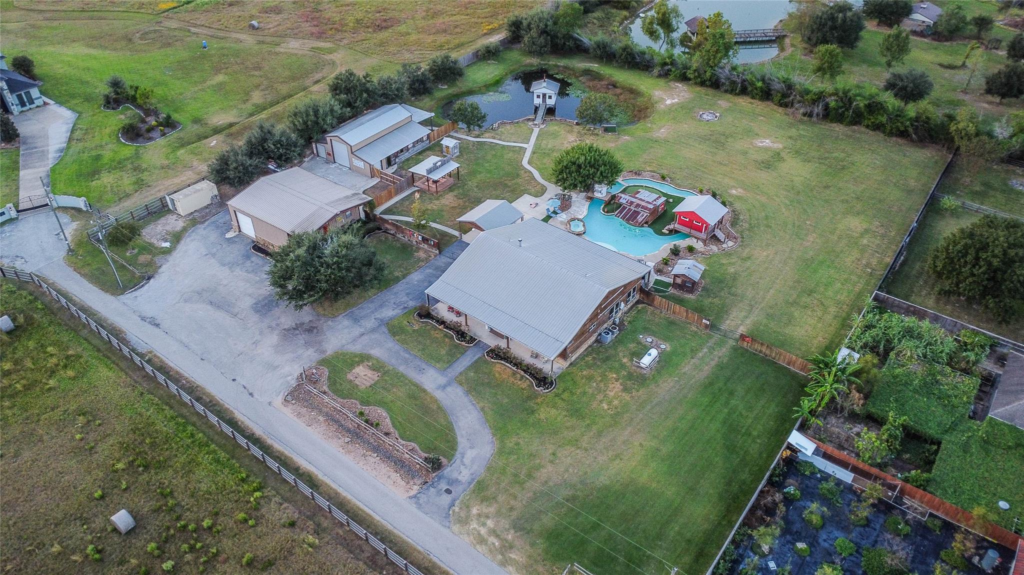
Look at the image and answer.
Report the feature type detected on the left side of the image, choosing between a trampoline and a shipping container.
shipping container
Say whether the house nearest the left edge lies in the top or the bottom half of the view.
top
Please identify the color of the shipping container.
white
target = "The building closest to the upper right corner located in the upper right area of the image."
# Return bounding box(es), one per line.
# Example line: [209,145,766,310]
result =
[883,2,941,40]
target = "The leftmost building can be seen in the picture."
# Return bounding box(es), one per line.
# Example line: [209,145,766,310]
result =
[0,76,43,117]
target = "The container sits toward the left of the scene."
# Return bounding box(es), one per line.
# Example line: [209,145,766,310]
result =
[163,179,219,216]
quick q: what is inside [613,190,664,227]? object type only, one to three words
shed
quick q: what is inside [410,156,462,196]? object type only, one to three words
building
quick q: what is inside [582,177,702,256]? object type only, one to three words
swimming pool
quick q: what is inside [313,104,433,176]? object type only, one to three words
barn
